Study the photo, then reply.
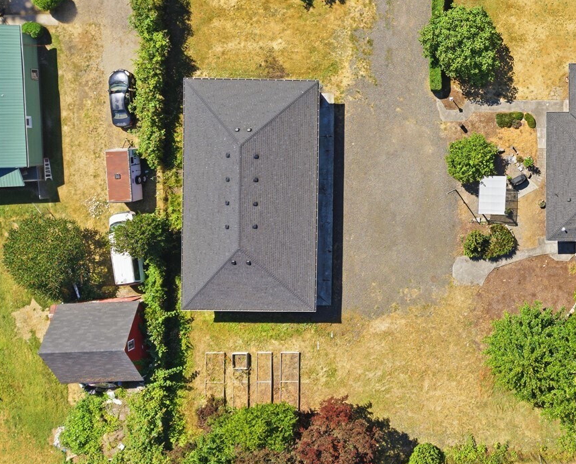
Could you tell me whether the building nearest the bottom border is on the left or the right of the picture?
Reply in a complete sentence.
The building nearest the bottom border is on the left side of the image.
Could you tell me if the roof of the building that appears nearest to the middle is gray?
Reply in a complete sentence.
Yes, gray is the color of the roof of the building that appears nearest to the middle.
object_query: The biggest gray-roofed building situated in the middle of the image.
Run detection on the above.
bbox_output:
[180,77,322,314]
